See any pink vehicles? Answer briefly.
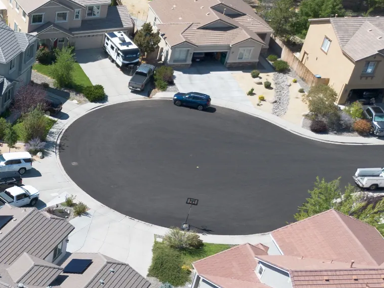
No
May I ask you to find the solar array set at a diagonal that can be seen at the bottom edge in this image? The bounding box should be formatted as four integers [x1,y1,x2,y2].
[65,257,101,277]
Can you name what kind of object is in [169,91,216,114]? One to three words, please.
car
